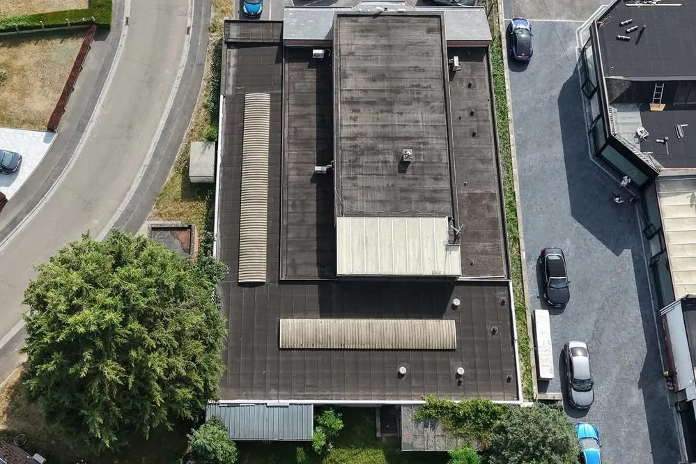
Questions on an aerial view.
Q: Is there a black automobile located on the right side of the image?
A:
Yes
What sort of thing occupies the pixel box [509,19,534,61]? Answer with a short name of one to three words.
car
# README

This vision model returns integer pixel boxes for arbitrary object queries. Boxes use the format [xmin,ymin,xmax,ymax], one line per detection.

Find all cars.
[0,148,22,174]
[509,19,534,61]
[541,248,572,307]
[564,343,597,408]
[575,420,603,464]
[242,0,262,19]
